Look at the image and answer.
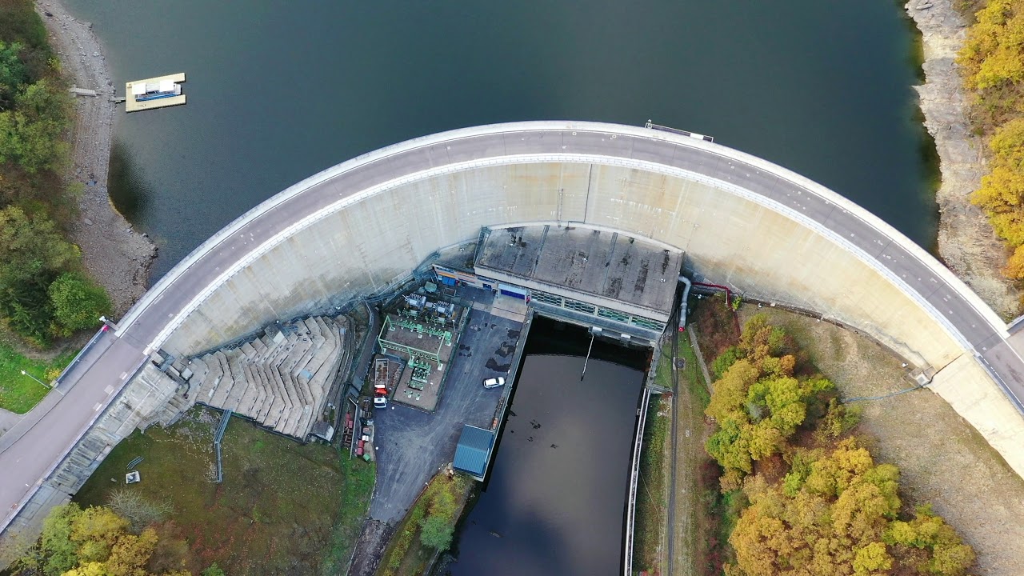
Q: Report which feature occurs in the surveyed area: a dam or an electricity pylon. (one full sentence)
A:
Of the two, only a dam appears.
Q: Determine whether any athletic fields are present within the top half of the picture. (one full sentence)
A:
No, I can find no athletic field within the top half of the picture.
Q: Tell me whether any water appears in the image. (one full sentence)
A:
Yes, there's water in this view.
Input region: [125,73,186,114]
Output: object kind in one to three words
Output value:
pier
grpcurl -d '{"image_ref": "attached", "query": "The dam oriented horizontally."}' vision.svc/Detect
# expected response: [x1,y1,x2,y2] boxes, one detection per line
[117,120,1007,375]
